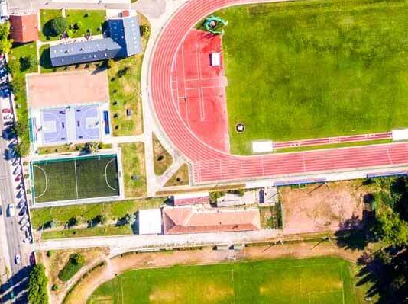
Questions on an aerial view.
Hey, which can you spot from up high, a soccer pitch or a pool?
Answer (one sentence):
The one in the frame is a soccer pitch.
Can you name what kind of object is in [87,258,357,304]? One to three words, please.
sports field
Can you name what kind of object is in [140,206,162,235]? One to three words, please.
building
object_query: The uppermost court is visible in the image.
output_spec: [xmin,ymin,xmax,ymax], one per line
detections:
[26,69,109,107]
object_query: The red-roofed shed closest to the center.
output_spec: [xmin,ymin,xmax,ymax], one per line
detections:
[174,193,210,206]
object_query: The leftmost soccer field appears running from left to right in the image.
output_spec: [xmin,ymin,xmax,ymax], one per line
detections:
[32,155,120,205]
